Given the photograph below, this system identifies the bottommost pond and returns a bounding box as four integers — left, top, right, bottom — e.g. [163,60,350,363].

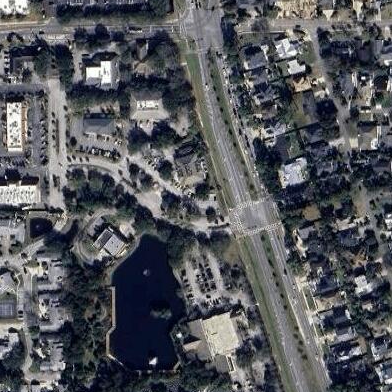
[109,235,186,370]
